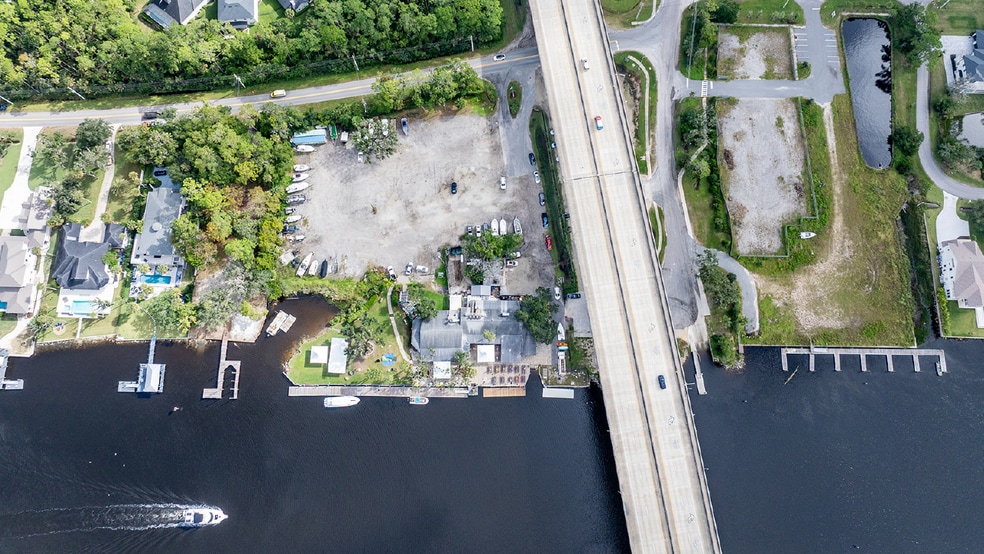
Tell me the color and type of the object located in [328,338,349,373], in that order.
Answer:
white tent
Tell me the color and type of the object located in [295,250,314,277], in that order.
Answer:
white boat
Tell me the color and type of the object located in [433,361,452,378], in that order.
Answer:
white tent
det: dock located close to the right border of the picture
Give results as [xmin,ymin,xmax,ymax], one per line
[780,339,947,373]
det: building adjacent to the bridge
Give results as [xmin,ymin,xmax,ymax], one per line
[411,295,536,363]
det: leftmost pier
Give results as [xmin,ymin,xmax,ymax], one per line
[0,349,28,390]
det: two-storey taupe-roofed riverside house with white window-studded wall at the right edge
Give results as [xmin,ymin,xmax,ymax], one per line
[934,237,984,307]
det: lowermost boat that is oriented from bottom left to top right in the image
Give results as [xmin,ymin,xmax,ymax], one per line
[268,311,286,334]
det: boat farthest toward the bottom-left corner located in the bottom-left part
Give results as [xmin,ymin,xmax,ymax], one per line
[183,509,229,523]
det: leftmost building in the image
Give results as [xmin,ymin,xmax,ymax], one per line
[0,193,53,313]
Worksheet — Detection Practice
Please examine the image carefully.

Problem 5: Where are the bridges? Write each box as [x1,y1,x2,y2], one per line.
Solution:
[529,0,724,554]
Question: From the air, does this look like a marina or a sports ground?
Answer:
marina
